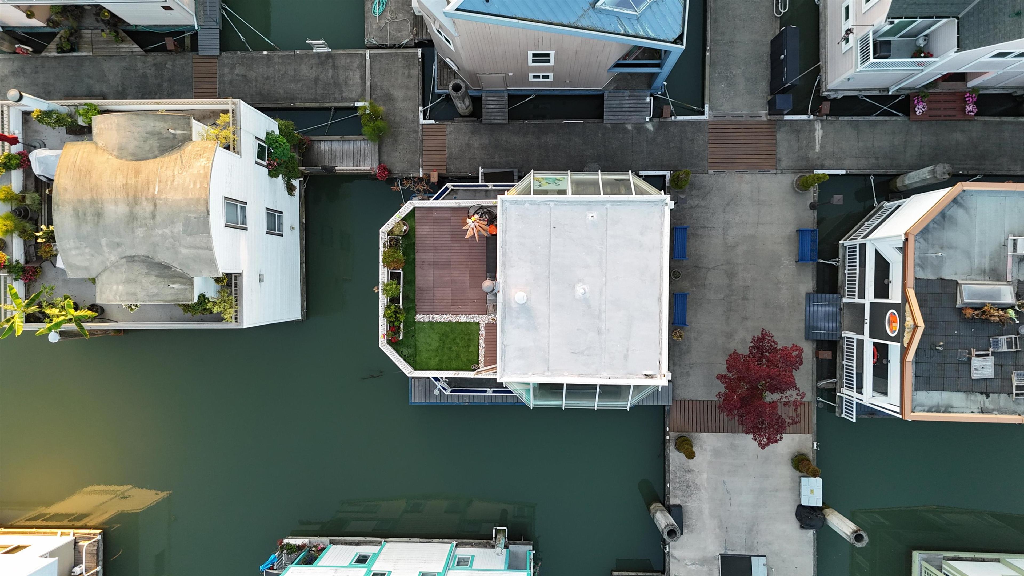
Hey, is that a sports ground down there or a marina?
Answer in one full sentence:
The area seen from above is a marina.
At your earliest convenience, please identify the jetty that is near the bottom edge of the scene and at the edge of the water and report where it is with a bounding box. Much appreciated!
[663,431,818,576]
